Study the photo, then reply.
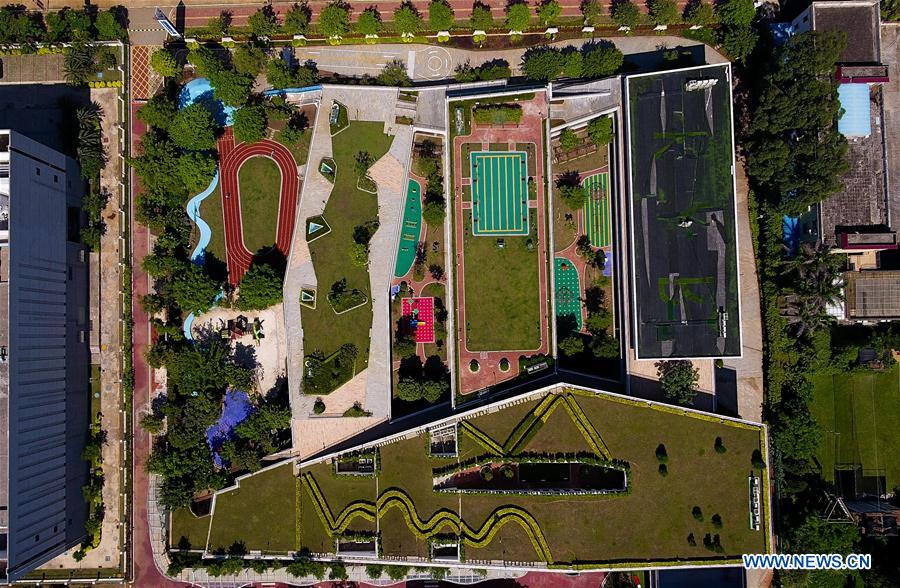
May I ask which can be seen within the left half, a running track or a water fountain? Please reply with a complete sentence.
There is a running track within the left half.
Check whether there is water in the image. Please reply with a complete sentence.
No, water can't be seen anywhere here.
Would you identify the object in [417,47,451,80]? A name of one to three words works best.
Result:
roundabout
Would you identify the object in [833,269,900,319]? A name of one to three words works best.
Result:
building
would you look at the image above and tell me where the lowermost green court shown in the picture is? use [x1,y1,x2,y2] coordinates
[553,254,582,333]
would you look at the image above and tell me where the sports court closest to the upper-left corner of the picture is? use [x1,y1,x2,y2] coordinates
[396,177,423,278]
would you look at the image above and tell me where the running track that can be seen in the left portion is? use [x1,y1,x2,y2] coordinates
[217,127,300,287]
